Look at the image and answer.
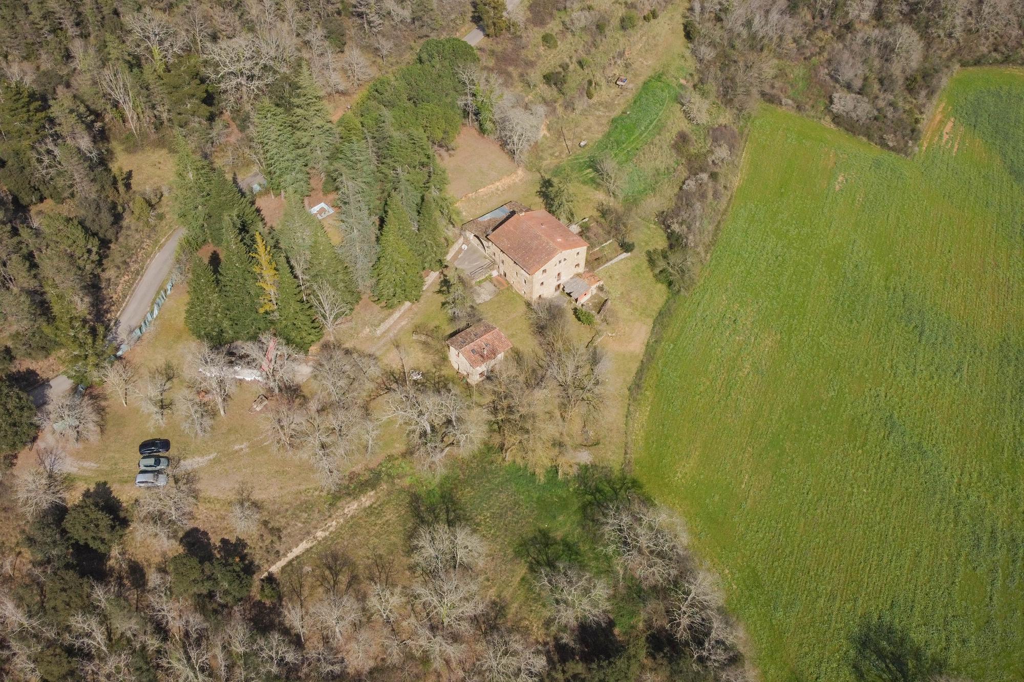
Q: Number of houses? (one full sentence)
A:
In total, there are 2 houses in the scene.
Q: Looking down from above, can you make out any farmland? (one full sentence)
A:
Yes, farmland shows up in the scene.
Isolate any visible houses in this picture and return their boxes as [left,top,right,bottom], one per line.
[440,323,505,390]
[485,208,590,304]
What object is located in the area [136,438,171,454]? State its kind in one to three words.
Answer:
car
